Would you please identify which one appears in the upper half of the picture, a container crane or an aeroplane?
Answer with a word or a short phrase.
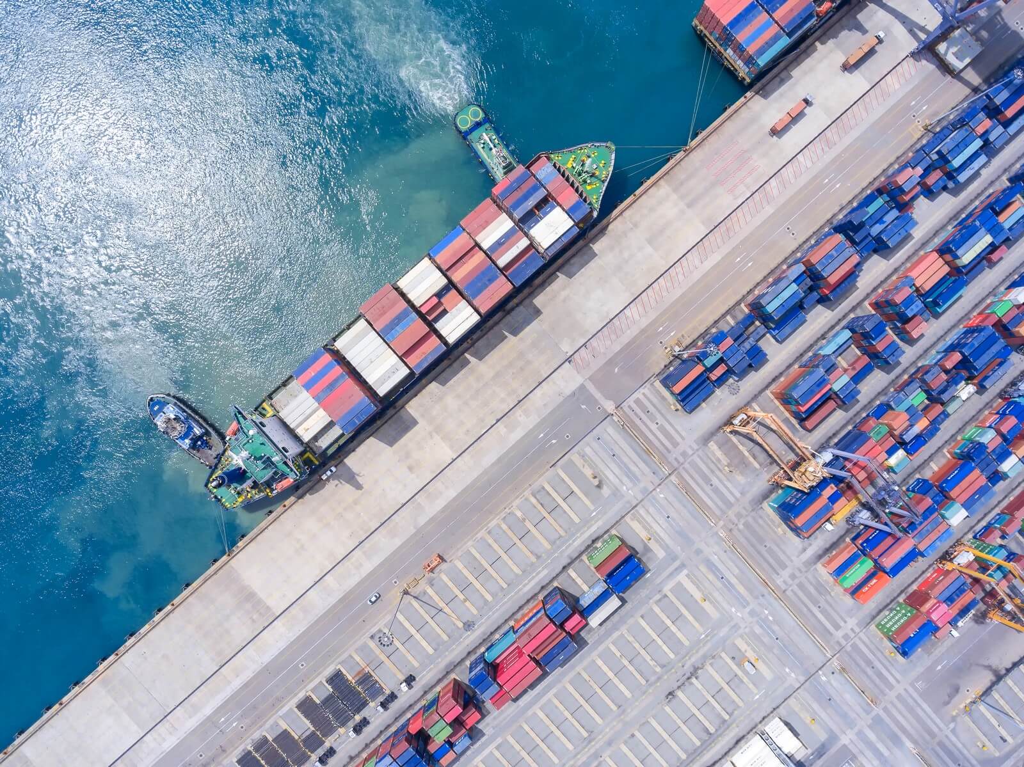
container crane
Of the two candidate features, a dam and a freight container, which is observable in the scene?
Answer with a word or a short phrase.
freight container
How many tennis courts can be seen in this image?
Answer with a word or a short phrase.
0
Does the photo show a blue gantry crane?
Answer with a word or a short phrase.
Yes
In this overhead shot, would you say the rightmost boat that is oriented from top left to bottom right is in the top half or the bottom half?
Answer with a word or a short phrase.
top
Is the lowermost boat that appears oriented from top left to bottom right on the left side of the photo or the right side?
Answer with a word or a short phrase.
left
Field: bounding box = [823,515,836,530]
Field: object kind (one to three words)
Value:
vehicle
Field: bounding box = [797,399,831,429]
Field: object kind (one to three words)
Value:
shipping container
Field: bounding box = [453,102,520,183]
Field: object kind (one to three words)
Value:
boat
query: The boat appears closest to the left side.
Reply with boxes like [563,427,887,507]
[145,391,227,468]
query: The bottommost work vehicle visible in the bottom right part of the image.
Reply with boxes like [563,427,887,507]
[740,658,757,676]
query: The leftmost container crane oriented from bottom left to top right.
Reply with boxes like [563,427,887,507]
[906,0,992,60]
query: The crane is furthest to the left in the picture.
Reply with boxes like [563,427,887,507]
[720,398,830,496]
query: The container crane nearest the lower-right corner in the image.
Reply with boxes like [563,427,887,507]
[939,534,1024,630]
